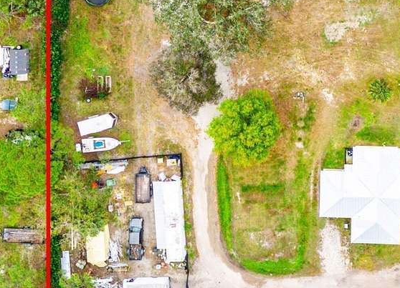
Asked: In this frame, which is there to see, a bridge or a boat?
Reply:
boat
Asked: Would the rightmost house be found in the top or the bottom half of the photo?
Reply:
bottom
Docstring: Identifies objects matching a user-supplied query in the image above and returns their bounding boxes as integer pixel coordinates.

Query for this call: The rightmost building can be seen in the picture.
[320,146,400,245]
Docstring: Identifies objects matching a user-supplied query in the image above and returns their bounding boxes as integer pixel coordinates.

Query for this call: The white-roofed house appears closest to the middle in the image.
[153,178,186,263]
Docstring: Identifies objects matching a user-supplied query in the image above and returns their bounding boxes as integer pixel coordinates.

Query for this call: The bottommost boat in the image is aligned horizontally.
[73,136,128,154]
